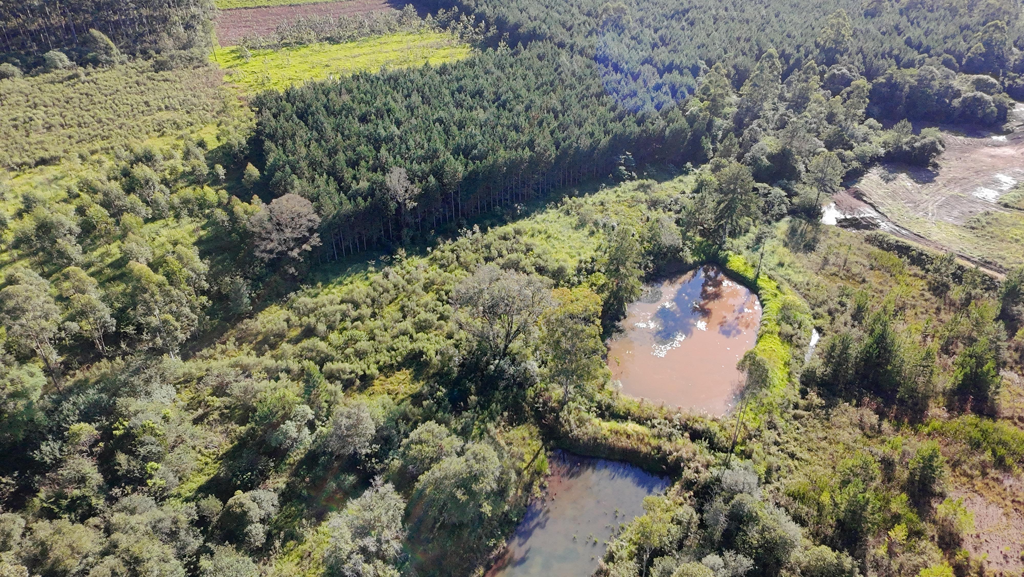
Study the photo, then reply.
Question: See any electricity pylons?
No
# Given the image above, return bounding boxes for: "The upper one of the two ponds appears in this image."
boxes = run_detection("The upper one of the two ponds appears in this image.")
[607,265,761,418]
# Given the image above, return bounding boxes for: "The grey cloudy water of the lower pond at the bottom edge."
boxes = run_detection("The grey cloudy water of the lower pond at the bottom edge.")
[486,451,673,577]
